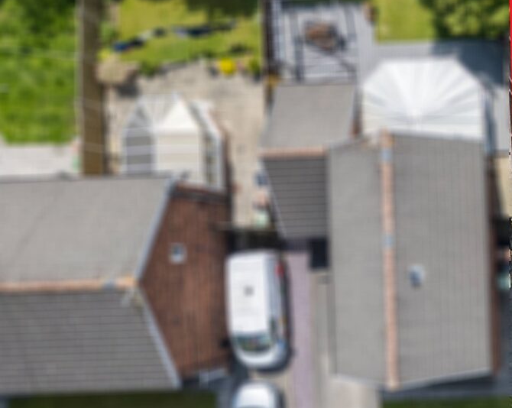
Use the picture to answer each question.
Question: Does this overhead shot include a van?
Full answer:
Yes, the image includes a van.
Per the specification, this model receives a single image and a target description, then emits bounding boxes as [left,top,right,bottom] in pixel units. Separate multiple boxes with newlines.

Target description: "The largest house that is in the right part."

[328,130,498,392]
